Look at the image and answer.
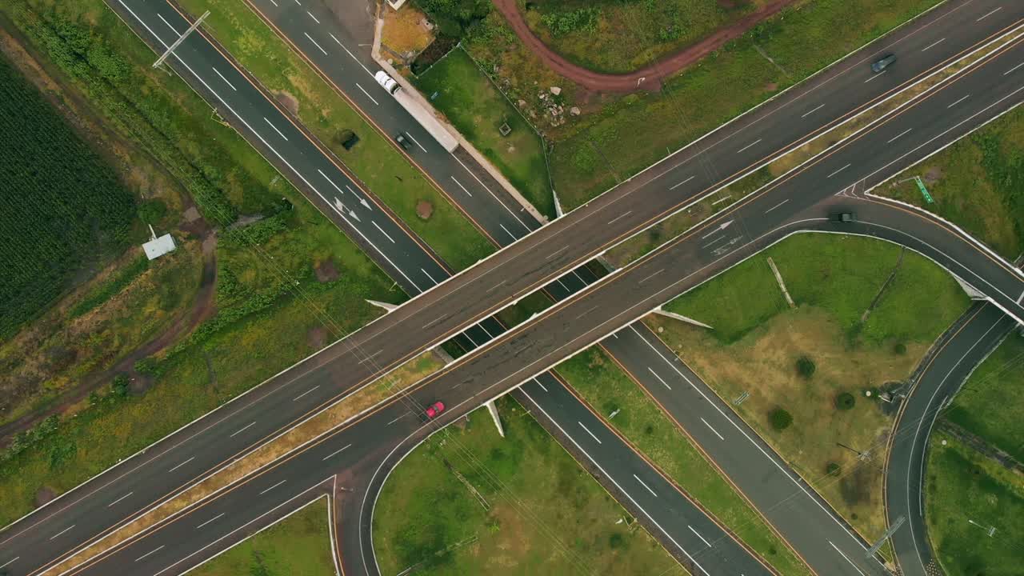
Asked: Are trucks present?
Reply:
Yes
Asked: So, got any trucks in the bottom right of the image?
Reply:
No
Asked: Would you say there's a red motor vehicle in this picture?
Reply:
Yes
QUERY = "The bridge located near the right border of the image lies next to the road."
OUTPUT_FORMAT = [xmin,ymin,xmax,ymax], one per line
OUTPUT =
[957,239,1024,328]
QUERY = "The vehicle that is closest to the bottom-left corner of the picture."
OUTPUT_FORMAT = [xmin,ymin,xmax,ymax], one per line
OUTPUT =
[424,401,447,419]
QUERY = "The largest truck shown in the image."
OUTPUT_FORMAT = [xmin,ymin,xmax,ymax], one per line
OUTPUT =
[375,72,460,156]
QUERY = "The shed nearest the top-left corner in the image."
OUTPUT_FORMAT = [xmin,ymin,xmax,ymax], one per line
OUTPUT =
[143,234,180,259]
